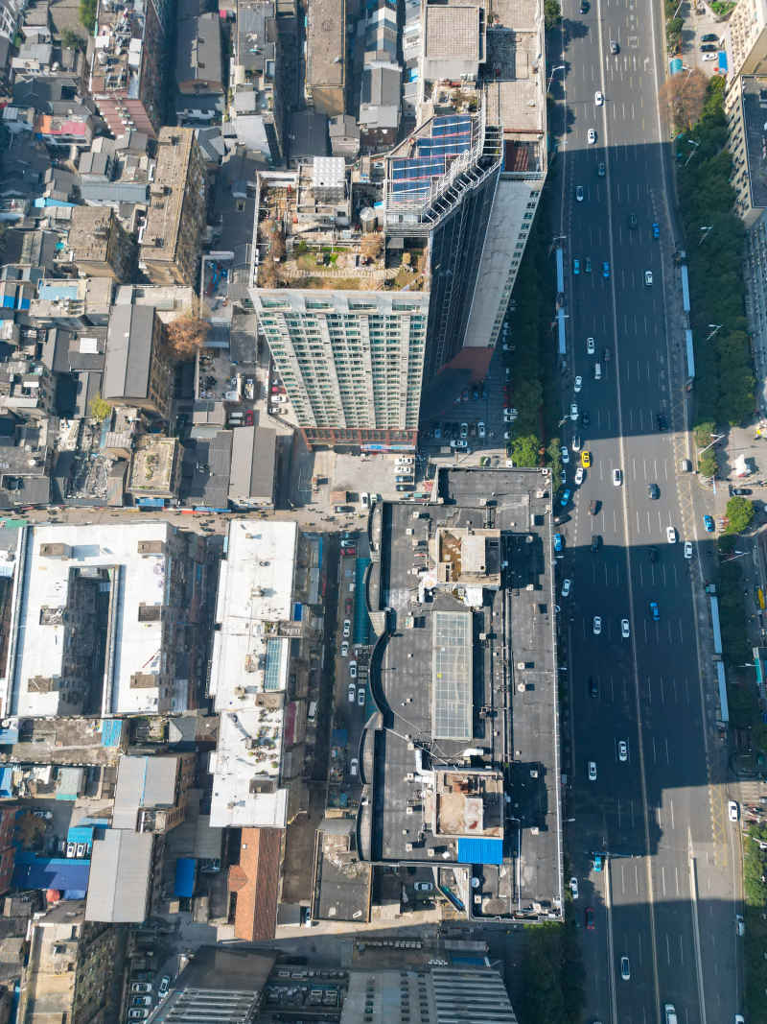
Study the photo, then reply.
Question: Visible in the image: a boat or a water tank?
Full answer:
It is a water tank that can be seen here.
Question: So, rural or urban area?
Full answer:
From above, the setting appears urban.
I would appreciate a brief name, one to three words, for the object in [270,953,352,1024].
building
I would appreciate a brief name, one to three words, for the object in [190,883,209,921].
shed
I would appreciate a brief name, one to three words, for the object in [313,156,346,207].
water tank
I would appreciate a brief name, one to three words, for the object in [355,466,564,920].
building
